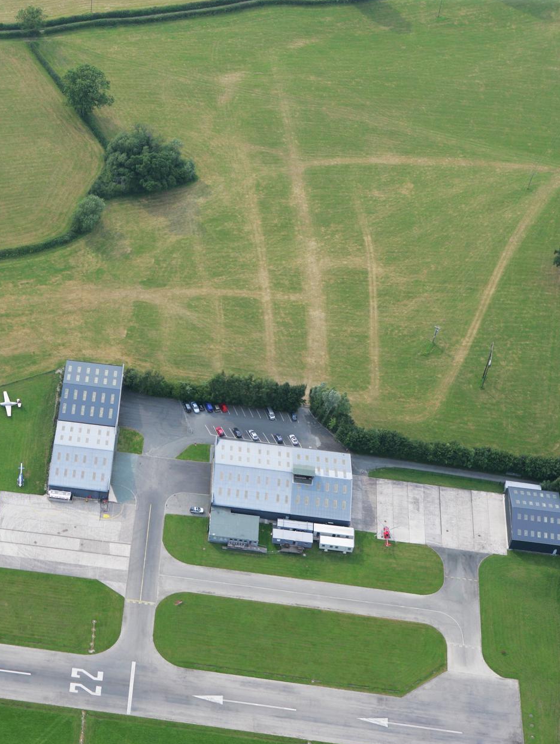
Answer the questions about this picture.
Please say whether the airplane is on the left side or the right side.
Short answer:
left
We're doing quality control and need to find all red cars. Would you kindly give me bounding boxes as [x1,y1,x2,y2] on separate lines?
[220,402,228,412]
[215,426,223,435]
